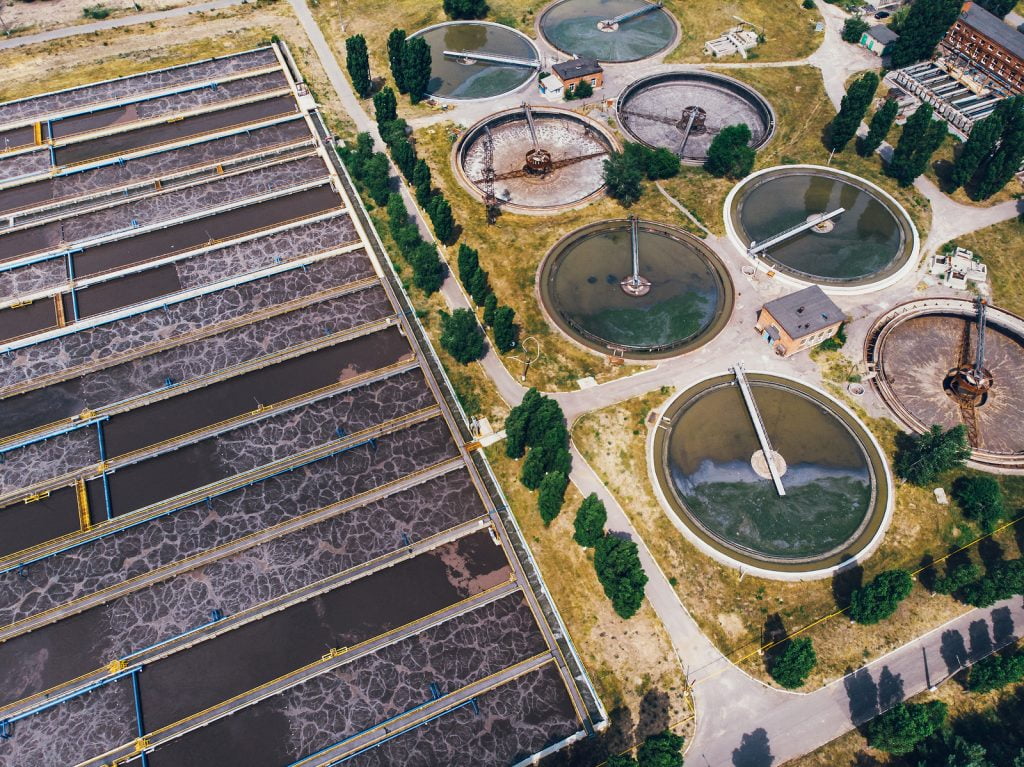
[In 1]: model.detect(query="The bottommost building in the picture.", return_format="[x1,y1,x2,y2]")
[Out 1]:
[758,285,850,353]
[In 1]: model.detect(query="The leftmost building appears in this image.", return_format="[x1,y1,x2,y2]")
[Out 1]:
[543,59,605,104]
